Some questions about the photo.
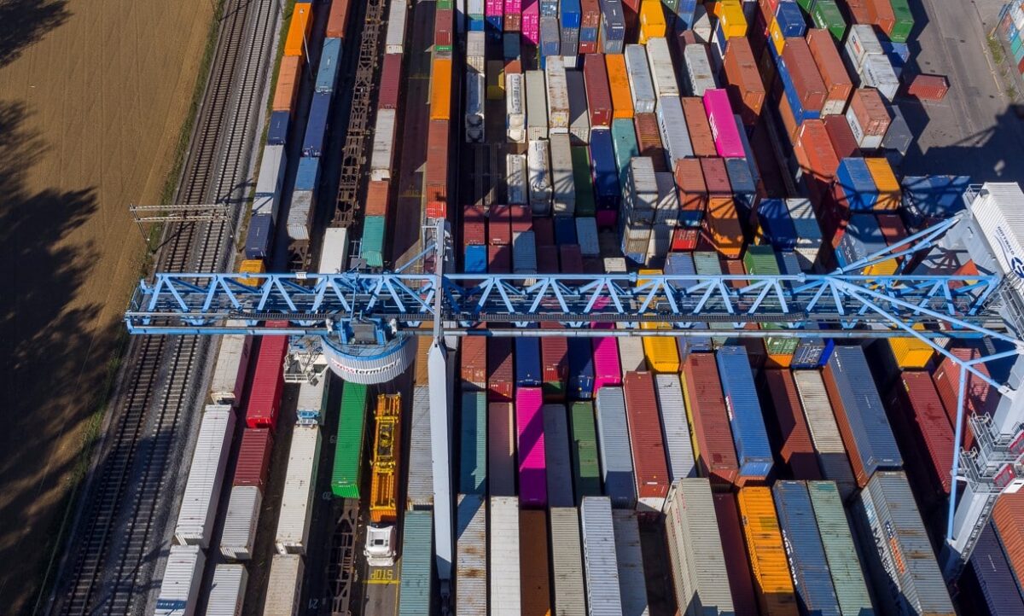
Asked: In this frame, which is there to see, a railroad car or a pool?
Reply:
railroad car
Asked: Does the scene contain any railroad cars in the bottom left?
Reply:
Yes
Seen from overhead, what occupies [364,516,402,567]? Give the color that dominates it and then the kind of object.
white truck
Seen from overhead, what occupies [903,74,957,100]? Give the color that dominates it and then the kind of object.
red shipping container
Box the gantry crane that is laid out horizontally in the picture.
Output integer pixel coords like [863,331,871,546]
[120,187,1024,616]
